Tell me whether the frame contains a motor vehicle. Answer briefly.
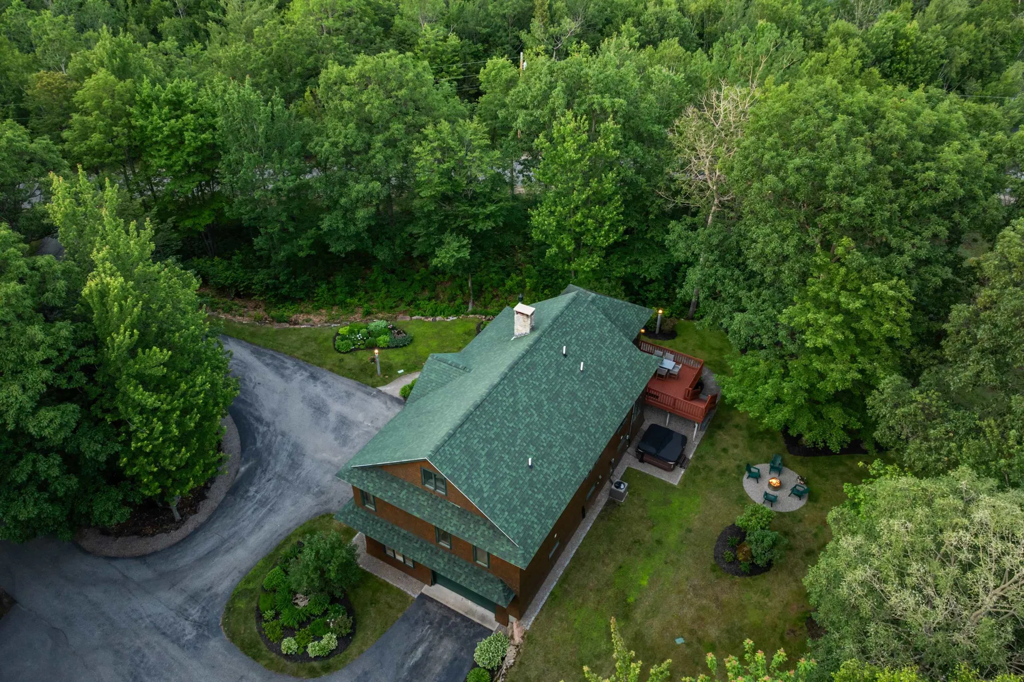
No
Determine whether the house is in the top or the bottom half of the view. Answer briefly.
bottom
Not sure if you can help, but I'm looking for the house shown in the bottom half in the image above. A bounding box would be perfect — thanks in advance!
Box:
[333,283,660,626]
